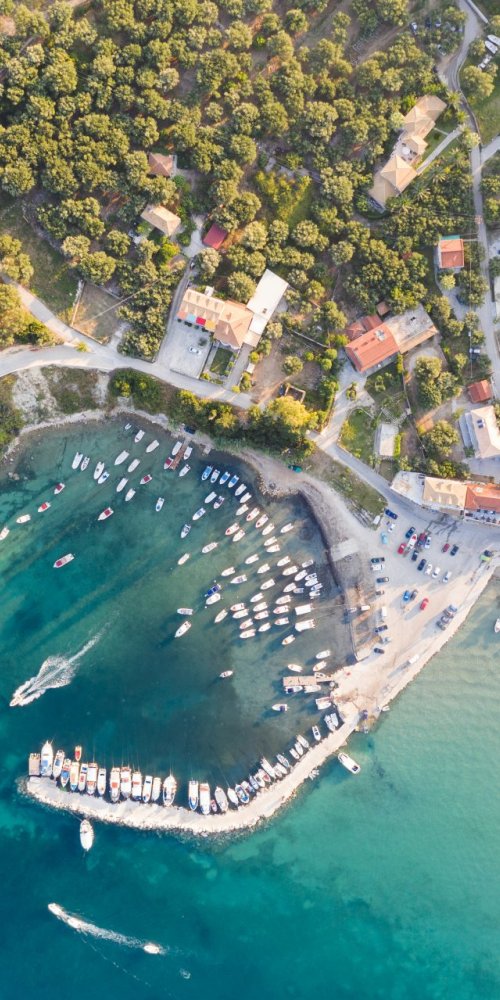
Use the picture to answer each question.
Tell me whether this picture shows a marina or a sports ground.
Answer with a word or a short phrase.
marina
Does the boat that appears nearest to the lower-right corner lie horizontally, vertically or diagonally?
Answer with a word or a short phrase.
diagonally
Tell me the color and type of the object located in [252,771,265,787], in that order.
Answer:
white boat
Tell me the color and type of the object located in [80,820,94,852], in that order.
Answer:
white boat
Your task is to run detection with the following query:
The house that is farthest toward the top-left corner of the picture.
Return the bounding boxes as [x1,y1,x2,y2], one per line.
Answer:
[149,152,176,177]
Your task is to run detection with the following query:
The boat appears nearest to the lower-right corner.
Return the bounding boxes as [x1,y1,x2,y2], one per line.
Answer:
[339,753,362,777]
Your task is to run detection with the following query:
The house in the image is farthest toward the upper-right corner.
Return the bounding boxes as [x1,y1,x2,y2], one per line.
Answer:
[367,96,446,212]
